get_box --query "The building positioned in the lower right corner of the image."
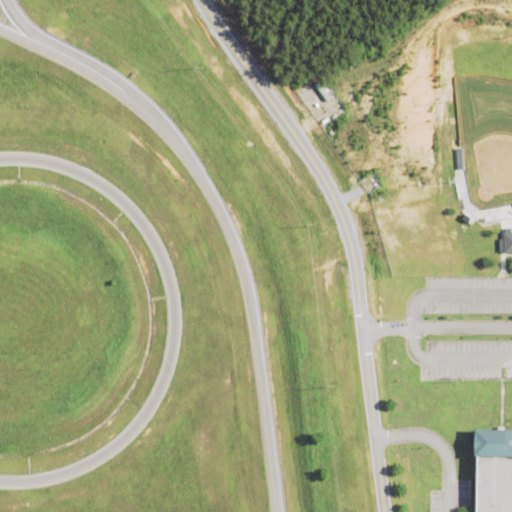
[474,430,512,512]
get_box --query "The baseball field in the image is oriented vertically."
[456,76,512,210]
